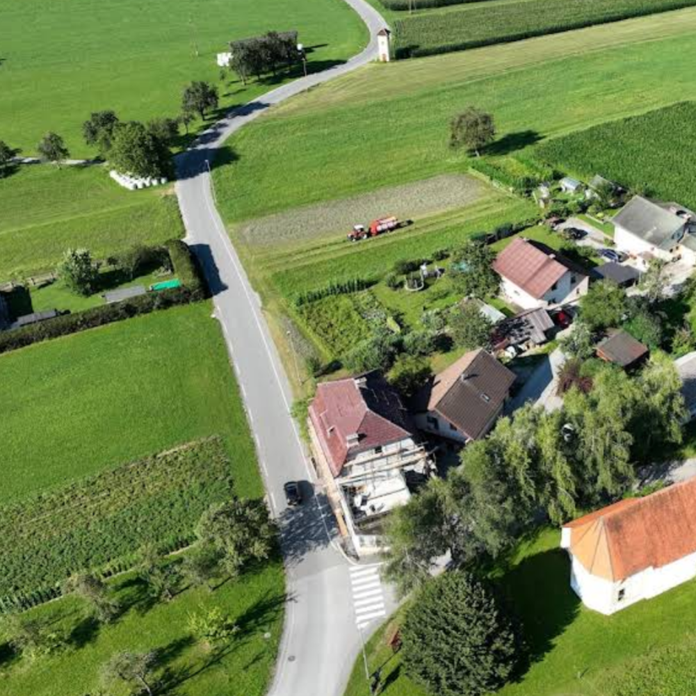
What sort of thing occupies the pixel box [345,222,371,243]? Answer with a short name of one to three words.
work vehicle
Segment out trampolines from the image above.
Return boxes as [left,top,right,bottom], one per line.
[402,272,426,289]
